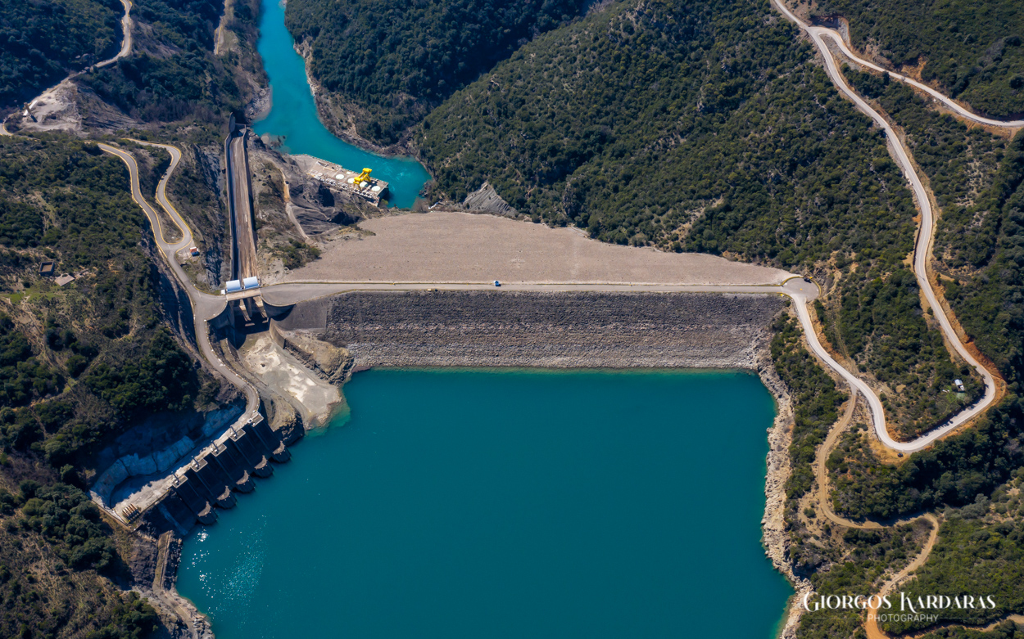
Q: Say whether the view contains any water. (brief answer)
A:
Yes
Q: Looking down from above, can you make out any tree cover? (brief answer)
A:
Yes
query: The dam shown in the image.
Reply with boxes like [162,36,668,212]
[261,212,789,372]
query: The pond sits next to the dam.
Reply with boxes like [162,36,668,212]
[178,368,790,639]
